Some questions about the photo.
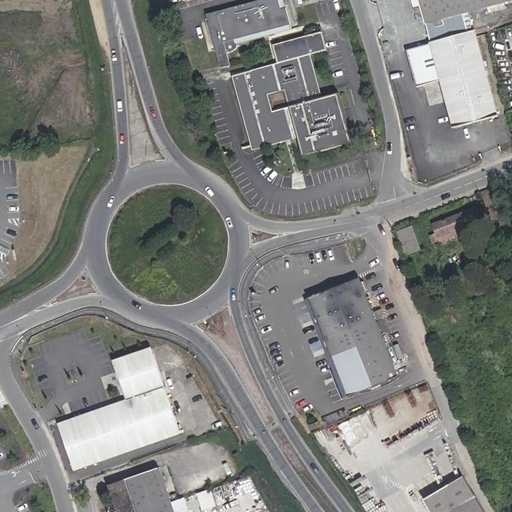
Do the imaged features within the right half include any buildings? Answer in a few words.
Yes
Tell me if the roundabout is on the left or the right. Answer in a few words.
left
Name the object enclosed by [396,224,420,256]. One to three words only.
shed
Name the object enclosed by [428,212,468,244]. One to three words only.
house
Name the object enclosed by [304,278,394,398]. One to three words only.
building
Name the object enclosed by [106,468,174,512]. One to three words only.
building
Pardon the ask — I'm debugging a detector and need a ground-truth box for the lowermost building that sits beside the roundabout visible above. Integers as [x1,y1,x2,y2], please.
[56,386,182,472]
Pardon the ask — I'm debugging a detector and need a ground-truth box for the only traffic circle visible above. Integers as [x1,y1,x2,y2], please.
[82,158,254,330]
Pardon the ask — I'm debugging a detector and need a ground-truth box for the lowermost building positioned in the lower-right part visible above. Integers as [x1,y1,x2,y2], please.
[424,476,486,512]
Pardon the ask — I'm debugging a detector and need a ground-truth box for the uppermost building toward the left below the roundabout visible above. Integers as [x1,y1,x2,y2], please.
[112,346,165,400]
